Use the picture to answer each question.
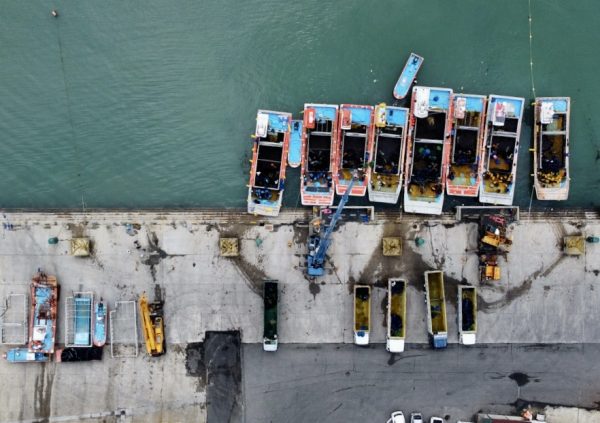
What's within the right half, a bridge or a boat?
boat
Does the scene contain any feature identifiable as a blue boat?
Yes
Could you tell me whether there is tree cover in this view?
No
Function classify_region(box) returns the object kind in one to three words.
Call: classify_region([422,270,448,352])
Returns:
truck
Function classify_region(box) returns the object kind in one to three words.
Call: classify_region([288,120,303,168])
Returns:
boat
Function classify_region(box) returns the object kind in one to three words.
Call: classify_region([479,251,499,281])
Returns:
work vehicle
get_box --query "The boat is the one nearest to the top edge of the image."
[396,53,424,100]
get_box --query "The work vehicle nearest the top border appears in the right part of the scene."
[473,228,514,250]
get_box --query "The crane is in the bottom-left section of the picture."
[141,291,169,355]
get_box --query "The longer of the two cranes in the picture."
[299,178,356,279]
